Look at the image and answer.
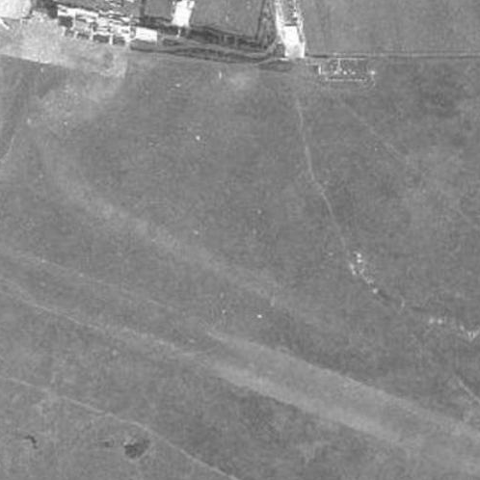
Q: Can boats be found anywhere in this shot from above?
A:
No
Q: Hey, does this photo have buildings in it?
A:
Yes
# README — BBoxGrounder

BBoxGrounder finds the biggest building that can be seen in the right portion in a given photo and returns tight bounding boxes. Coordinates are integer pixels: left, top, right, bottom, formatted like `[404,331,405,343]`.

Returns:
[283,25,305,58]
